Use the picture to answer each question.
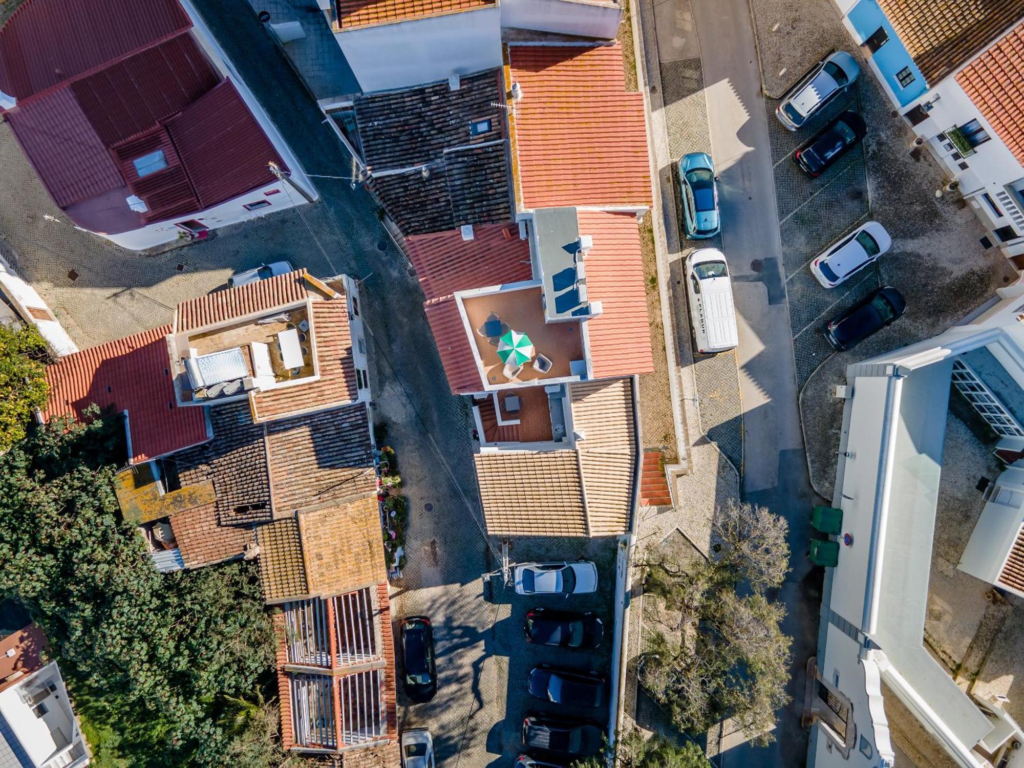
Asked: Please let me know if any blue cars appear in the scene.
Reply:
Yes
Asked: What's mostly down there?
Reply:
buildings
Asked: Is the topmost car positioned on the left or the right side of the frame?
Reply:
right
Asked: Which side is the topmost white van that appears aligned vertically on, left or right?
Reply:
right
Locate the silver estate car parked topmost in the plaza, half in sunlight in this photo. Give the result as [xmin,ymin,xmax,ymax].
[766,49,861,141]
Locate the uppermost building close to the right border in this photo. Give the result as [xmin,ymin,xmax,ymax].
[836,0,1024,109]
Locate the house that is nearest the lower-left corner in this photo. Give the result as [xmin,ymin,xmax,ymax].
[0,617,103,768]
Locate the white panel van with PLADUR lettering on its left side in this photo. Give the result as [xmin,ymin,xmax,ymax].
[679,247,738,358]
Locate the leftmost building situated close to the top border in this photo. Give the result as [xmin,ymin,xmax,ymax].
[0,0,326,253]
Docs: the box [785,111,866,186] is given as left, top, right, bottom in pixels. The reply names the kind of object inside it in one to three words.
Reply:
car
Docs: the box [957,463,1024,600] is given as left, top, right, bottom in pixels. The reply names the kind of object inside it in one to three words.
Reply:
shed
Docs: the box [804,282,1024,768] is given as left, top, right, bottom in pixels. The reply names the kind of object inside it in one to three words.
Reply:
church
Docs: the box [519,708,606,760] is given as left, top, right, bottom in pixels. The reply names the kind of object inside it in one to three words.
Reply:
truck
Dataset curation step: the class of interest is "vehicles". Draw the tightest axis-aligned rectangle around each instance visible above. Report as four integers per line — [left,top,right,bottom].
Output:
[223,257,301,291]
[526,661,608,711]
[397,613,442,701]
[785,111,866,186]
[815,284,906,357]
[679,247,738,358]
[512,556,599,601]
[521,604,604,653]
[802,218,890,295]
[519,708,606,760]
[672,154,722,242]
[766,49,861,141]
